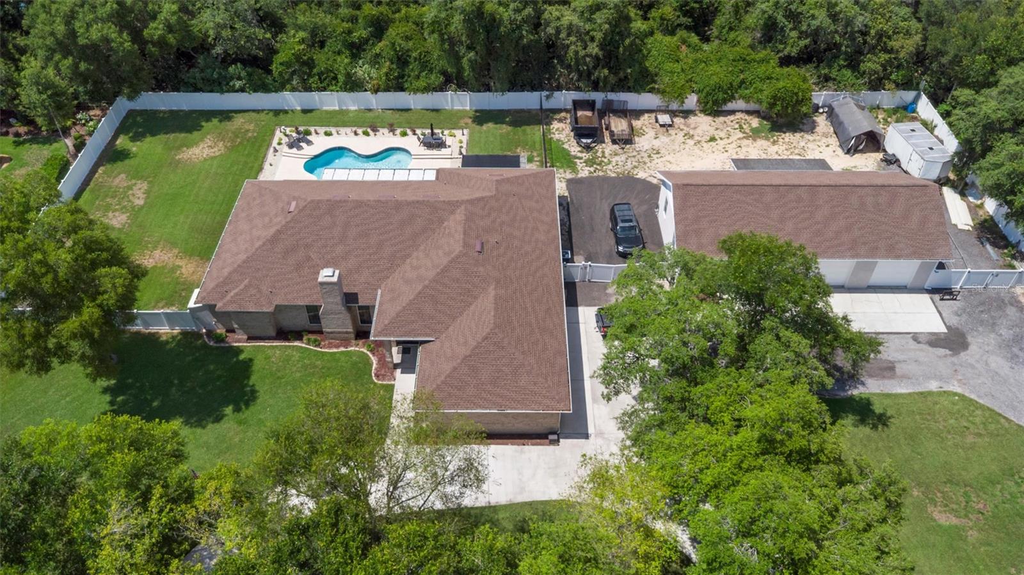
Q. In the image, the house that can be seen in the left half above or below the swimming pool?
below it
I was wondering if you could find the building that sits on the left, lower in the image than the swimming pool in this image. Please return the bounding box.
[194,168,573,432]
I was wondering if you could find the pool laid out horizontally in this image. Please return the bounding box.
[300,144,415,180]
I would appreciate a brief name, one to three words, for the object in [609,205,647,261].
car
